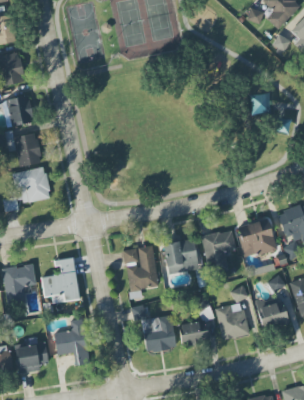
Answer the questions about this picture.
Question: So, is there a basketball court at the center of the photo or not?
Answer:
No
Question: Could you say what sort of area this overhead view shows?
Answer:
residential area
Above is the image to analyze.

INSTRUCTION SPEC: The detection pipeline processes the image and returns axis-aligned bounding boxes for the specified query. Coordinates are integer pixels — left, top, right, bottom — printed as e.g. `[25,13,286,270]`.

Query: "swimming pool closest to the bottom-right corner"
[255,282,275,302]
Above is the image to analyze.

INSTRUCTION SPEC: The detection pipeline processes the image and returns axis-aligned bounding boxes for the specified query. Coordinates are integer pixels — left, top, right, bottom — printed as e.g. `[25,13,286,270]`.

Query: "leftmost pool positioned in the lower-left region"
[24,291,41,317]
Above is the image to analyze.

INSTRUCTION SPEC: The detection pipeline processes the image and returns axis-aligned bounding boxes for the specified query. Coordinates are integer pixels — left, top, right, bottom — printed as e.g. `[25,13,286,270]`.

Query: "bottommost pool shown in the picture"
[46,316,71,336]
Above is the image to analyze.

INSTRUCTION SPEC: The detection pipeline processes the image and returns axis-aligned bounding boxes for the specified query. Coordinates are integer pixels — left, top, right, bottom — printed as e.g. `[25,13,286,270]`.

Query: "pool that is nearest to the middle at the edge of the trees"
[169,274,191,288]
